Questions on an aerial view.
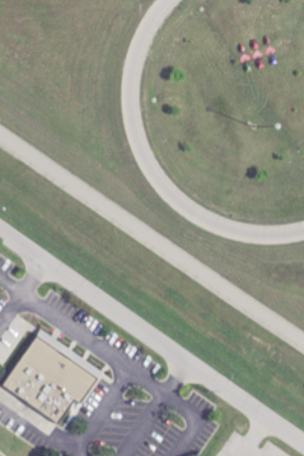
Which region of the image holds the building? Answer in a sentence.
You can find the building in the bottom left area of the picture.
